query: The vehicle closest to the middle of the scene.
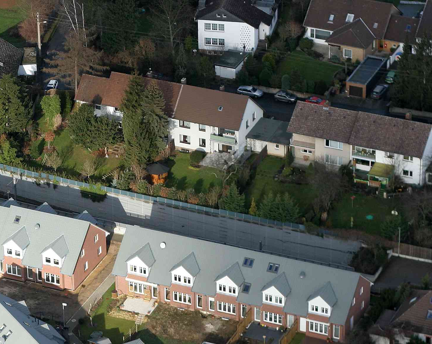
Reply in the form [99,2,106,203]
[236,84,263,98]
